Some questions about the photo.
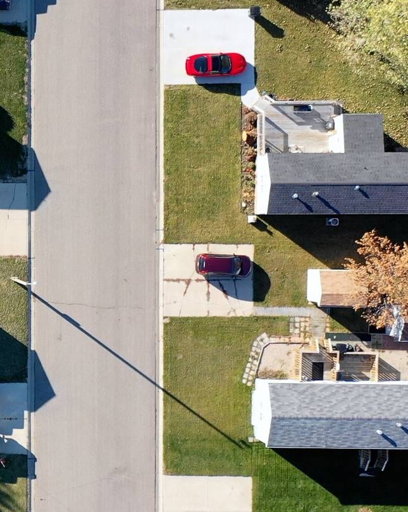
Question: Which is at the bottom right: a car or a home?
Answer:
home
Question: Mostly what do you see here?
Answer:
paved ground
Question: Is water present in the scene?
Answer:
No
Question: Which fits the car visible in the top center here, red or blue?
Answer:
red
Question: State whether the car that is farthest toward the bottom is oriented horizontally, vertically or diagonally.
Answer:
horizontally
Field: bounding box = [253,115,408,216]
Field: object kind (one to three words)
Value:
house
